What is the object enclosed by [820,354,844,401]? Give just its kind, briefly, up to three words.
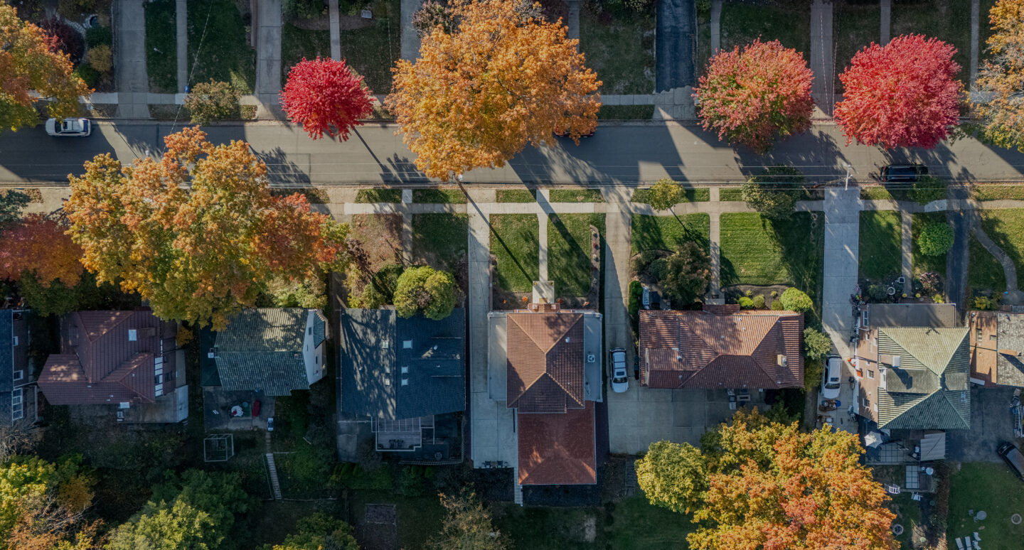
car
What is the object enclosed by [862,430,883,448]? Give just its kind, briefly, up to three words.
umbrella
